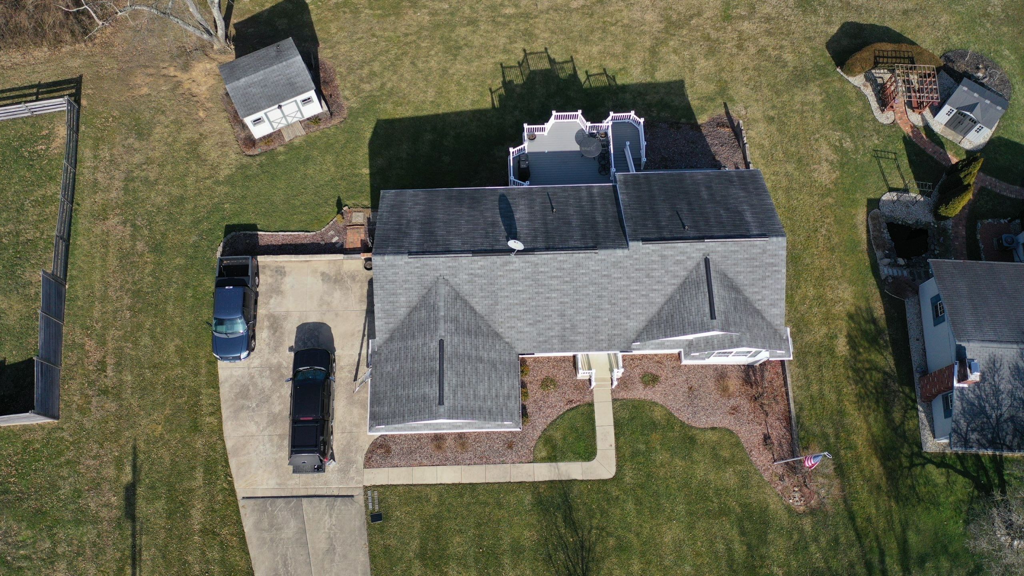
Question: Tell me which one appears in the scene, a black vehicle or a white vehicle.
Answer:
black vehicle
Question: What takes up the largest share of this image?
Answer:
grass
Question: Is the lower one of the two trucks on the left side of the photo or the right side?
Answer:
left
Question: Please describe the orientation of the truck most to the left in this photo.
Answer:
from top to bottom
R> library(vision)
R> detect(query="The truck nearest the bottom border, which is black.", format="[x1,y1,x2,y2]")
[285,347,337,474]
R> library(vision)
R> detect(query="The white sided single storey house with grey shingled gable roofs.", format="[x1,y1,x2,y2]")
[365,165,797,439]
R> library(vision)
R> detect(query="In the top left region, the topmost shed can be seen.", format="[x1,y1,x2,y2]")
[214,36,320,141]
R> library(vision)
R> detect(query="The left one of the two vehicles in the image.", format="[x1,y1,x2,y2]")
[206,250,260,362]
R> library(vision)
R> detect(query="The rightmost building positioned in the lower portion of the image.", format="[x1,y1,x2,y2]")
[907,255,1024,456]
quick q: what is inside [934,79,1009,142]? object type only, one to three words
shed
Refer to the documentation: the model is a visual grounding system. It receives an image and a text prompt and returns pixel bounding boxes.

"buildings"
[907,255,1024,456]
[365,165,797,439]
[214,36,320,141]
[934,79,1009,142]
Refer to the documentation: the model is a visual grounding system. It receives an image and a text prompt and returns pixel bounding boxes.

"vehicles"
[206,250,260,362]
[285,347,337,474]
